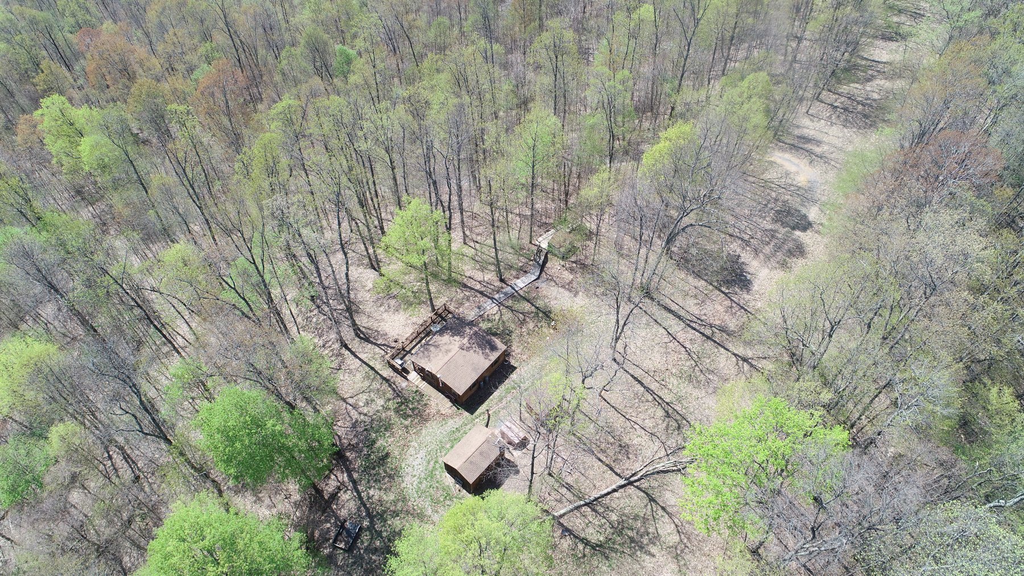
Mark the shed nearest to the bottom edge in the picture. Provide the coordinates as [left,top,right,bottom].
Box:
[442,425,505,490]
